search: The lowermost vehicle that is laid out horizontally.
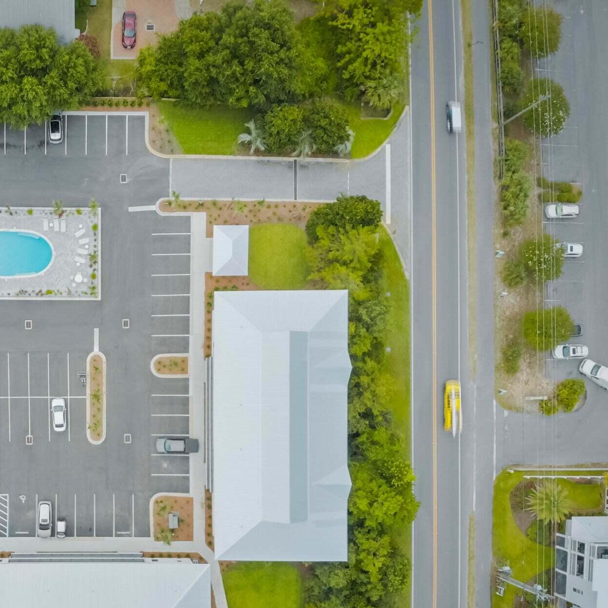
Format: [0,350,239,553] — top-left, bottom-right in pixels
[156,437,198,454]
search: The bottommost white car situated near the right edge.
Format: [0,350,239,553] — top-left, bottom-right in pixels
[576,361,608,391]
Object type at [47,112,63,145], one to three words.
car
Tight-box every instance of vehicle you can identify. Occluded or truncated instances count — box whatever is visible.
[576,361,608,391]
[51,397,67,432]
[442,380,467,434]
[566,323,587,338]
[57,516,66,537]
[47,112,63,145]
[156,437,198,454]
[37,500,53,539]
[550,241,587,257]
[552,343,590,359]
[121,10,137,49]
[543,201,582,220]
[443,98,465,136]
